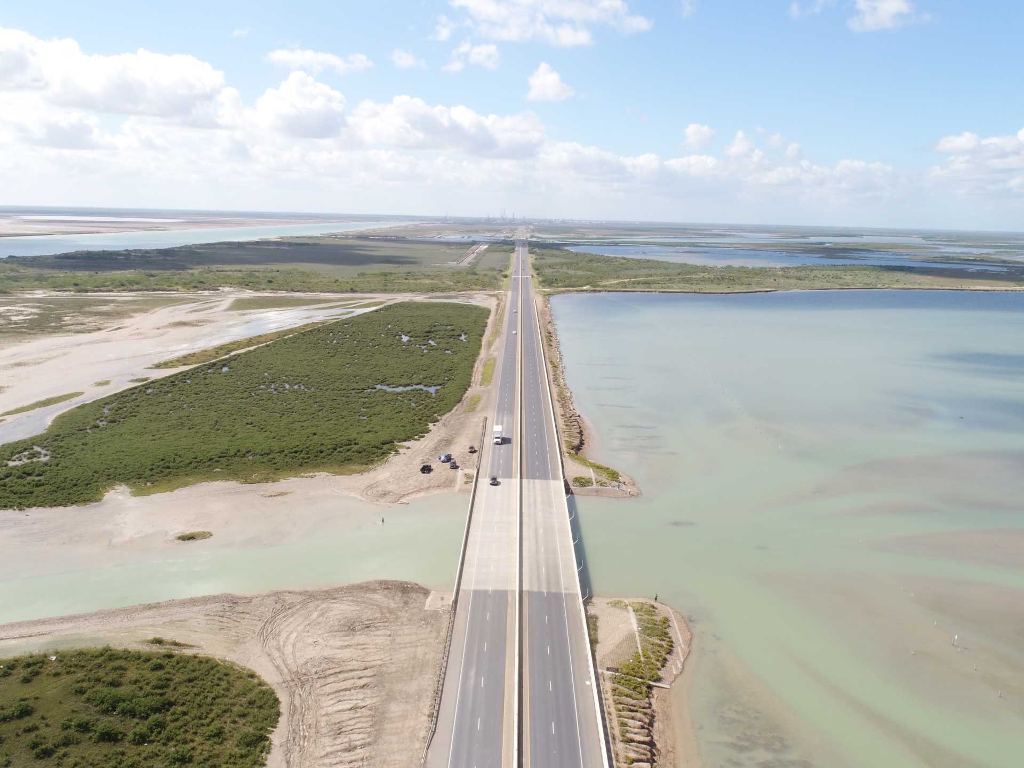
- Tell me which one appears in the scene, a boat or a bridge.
bridge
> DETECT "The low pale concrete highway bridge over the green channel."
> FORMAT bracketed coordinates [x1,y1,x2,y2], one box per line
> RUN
[451,475,585,601]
